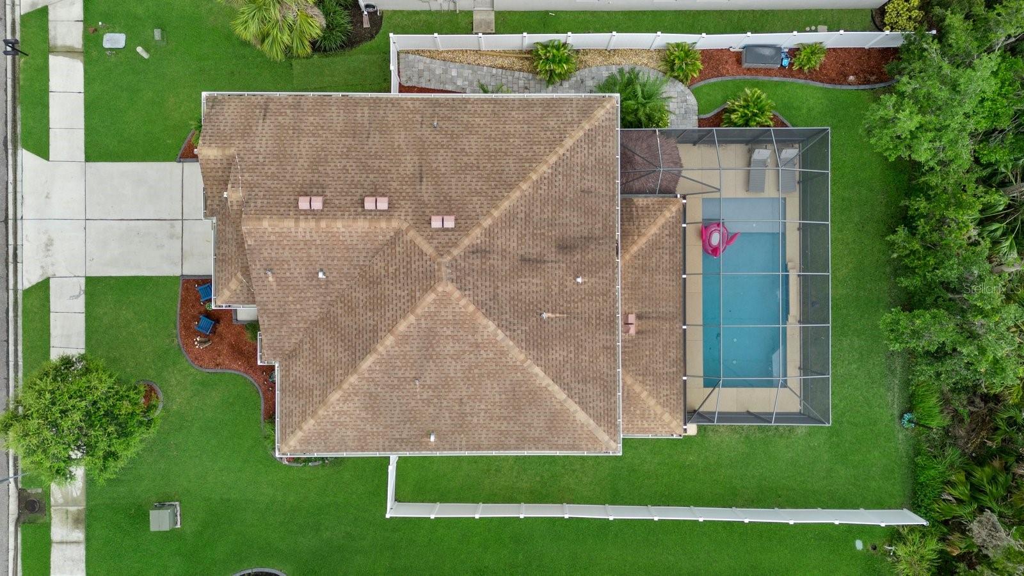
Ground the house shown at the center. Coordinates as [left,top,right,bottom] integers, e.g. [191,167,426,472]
[193,93,686,456]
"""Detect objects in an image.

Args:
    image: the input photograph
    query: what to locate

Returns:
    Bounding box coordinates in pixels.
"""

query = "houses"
[361,0,891,14]
[193,93,686,456]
